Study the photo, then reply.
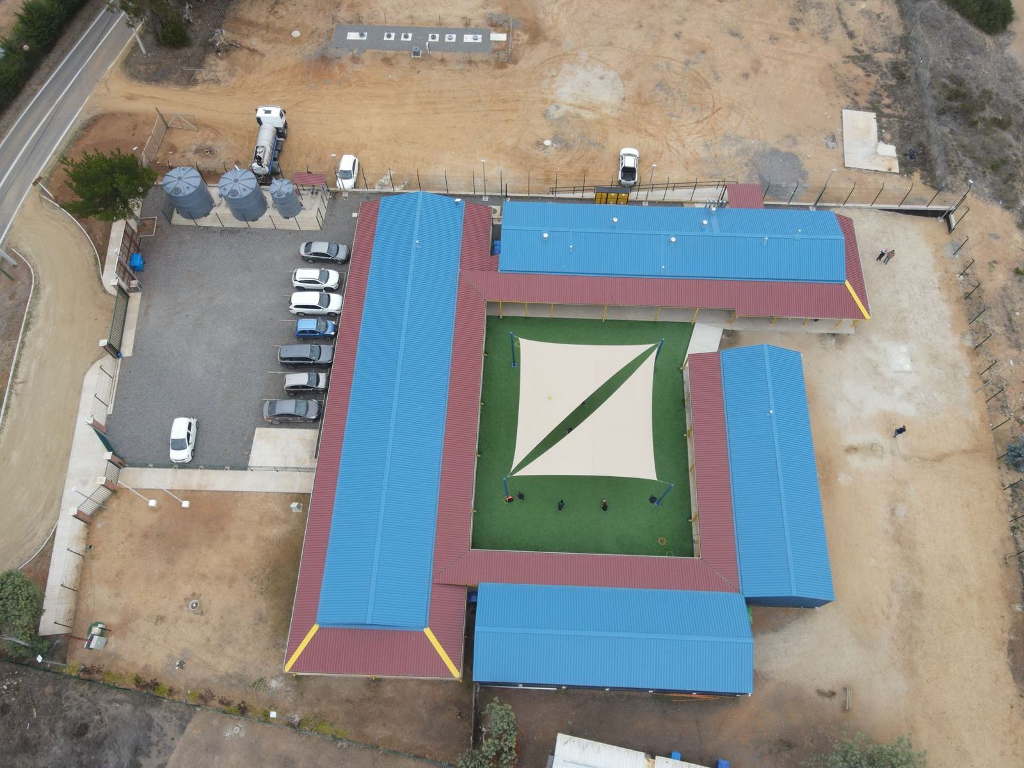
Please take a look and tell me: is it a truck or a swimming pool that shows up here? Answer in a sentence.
Of the two, only a truck appears.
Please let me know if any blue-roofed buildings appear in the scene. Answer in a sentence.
Yes, the picture does show a blue-roofed building.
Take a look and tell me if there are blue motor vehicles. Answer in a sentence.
Yes, a blue motor vehicle can be made out from above.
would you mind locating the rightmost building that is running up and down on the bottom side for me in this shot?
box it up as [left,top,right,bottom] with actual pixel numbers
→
[681,343,837,609]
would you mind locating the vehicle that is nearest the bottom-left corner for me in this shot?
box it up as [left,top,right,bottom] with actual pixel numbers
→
[166,417,201,465]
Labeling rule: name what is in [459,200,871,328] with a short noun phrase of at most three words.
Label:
building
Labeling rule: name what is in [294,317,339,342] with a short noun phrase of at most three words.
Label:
car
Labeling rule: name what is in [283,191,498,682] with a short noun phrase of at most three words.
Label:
building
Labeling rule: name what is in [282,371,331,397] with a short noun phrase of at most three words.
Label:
car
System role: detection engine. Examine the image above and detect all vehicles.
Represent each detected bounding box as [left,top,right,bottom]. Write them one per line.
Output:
[618,147,641,191]
[298,241,351,266]
[263,398,323,426]
[166,417,201,465]
[255,106,295,180]
[286,292,343,319]
[294,317,339,342]
[282,371,331,397]
[274,343,335,371]
[333,152,361,193]
[289,266,342,293]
